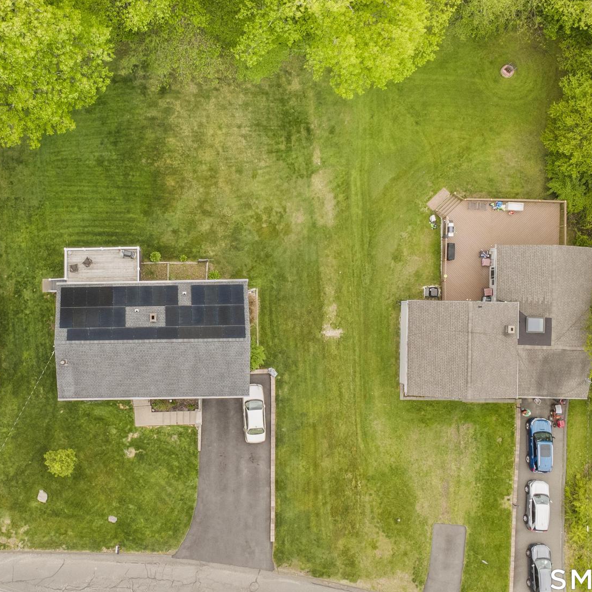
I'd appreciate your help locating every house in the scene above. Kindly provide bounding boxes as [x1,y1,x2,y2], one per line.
[52,279,252,403]
[398,244,592,401]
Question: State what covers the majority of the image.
grass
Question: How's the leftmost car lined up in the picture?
up and down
